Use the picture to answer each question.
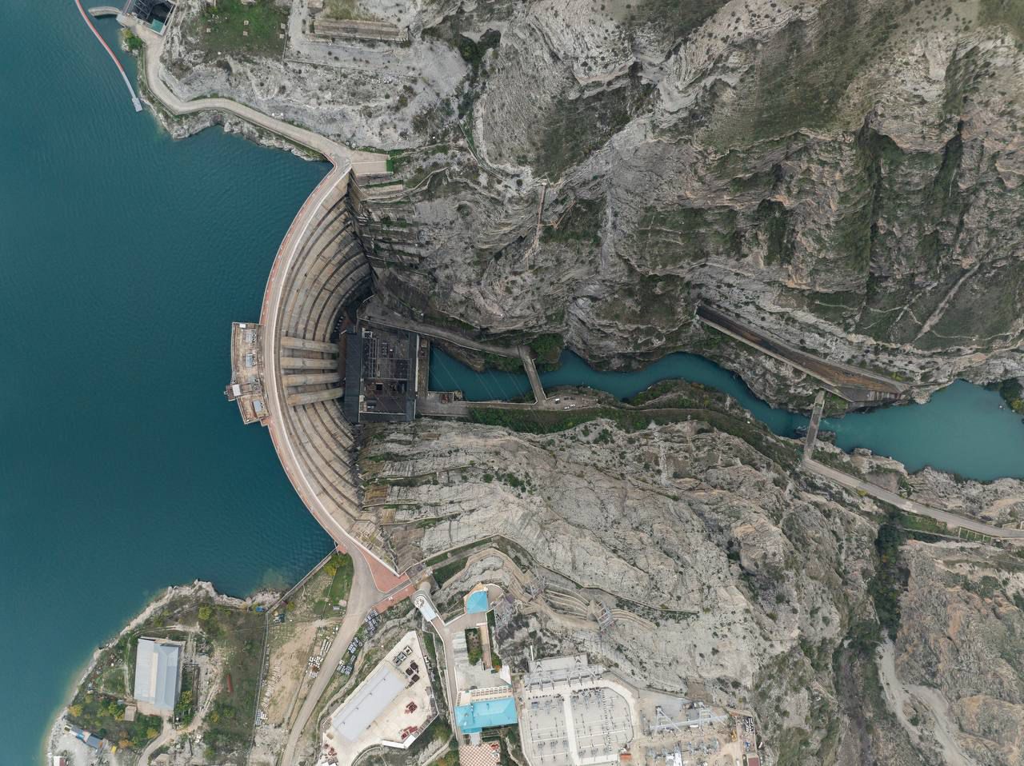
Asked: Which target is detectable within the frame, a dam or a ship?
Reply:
dam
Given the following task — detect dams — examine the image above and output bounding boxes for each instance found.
[231,159,397,573]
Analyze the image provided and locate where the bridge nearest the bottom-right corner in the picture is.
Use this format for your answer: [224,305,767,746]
[798,394,824,462]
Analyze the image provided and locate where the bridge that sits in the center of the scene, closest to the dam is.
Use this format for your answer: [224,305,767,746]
[518,346,547,407]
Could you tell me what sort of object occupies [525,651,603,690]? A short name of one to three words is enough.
building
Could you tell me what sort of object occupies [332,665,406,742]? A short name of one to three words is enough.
building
